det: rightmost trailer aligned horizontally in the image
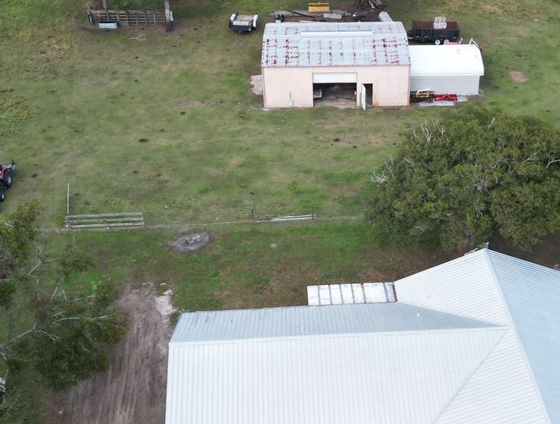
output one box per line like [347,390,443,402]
[407,21,459,45]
